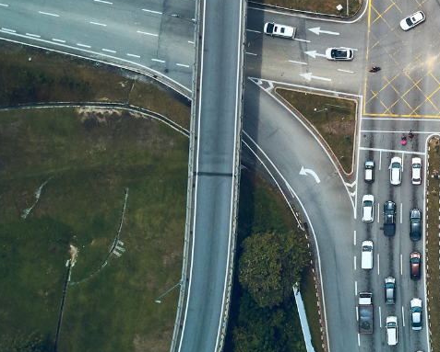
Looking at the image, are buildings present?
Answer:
No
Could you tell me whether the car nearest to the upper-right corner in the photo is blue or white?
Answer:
white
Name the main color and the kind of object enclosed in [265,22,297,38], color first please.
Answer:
white vehicle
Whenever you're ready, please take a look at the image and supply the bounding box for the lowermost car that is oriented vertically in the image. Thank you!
[386,315,399,346]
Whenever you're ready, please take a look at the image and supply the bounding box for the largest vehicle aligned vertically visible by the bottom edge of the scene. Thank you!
[356,291,374,336]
